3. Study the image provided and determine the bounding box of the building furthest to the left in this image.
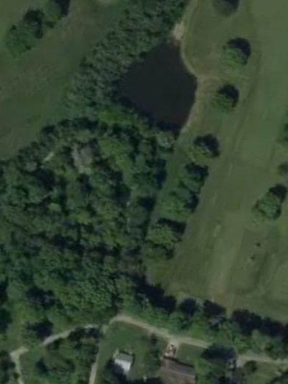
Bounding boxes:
[112,353,133,374]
